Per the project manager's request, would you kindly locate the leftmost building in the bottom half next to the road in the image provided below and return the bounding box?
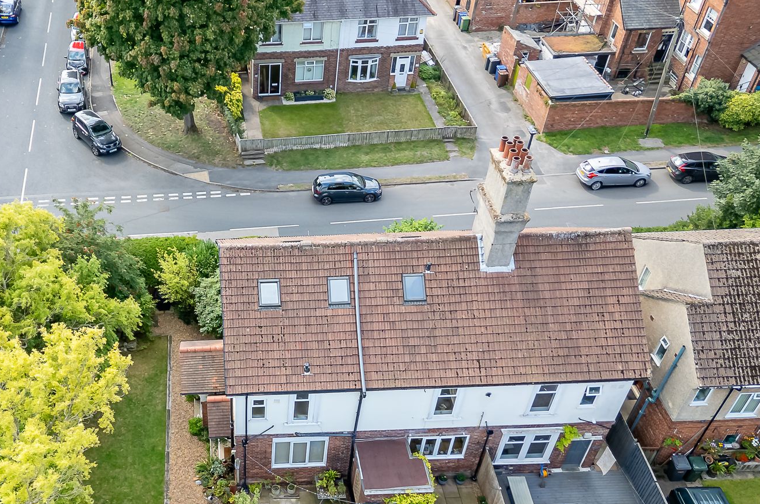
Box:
[179,135,650,504]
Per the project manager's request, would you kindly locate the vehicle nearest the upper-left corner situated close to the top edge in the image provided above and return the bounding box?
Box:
[0,0,28,23]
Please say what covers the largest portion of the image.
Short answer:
buildings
